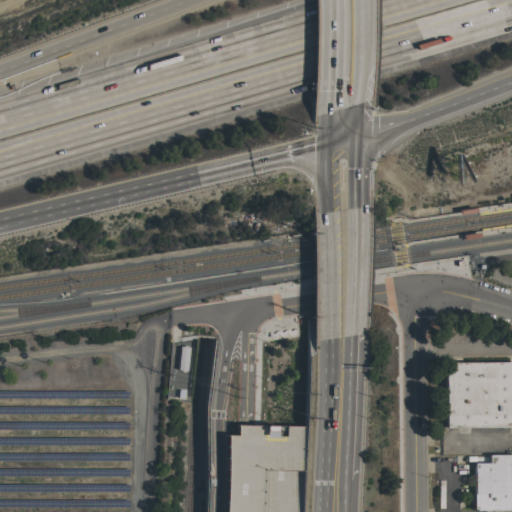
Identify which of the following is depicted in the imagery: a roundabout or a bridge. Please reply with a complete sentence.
There is a bridge in the scene.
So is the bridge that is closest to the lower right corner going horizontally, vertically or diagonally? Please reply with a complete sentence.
The bridge that is closest to the lower right corner runs vertically in the image.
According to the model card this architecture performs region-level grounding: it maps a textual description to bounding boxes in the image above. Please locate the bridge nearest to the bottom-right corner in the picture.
[317,208,374,342]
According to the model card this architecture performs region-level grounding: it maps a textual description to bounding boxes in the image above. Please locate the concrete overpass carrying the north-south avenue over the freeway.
[318,0,381,114]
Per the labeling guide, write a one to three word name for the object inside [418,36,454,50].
vehicle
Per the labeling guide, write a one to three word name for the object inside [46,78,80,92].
vehicle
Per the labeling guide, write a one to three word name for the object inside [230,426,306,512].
building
